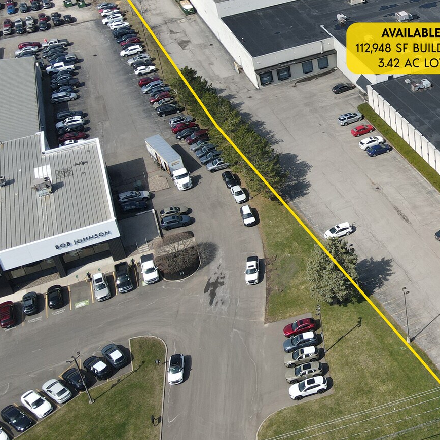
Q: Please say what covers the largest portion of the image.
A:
paved ground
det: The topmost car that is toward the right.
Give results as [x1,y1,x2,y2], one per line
[331,84,355,96]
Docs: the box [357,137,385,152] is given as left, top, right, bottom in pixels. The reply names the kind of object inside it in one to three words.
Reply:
car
